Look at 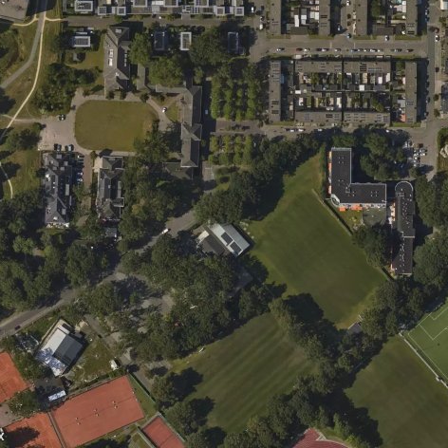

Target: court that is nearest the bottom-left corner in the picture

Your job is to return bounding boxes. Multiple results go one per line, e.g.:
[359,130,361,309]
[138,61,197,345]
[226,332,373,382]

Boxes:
[5,412,60,448]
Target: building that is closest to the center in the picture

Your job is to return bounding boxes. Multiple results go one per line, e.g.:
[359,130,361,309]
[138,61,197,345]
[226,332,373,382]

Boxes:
[192,219,249,256]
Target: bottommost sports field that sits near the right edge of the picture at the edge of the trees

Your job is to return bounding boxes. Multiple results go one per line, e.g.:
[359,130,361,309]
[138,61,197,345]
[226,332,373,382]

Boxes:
[347,339,448,448]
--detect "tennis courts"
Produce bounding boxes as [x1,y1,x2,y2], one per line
[5,412,60,448]
[51,377,143,448]
[142,414,181,448]
[0,352,28,402]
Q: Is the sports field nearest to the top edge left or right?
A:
right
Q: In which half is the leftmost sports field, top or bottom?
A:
bottom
